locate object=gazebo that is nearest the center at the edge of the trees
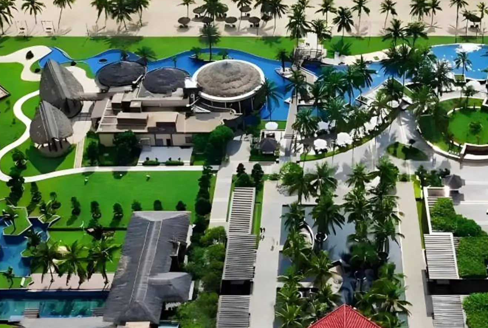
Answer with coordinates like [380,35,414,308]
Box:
[259,140,278,161]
